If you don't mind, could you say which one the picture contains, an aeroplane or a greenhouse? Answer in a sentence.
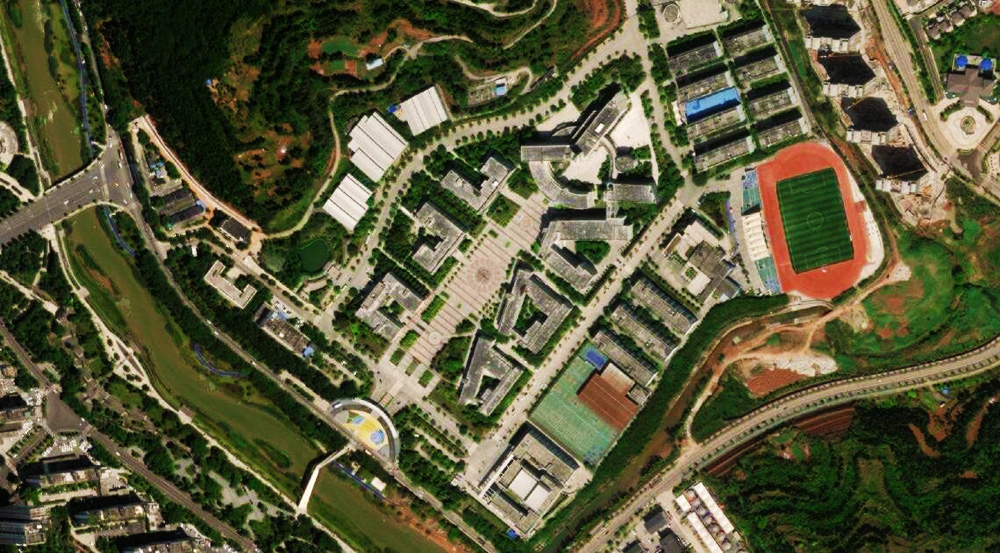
The one in the frame is a greenhouse.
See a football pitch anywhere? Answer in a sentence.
Yes, there's a football pitch down there.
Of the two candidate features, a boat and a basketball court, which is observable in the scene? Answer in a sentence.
It is a basketball court that can be seen here.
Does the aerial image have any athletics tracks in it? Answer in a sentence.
Yes, this view includes an athletics track.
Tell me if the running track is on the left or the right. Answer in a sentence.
The running track is on the right side of the image.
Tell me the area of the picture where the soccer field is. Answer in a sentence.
Look in the right portion of the view to spot the soccer field.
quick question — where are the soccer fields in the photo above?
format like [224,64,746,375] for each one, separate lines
[776,166,854,274]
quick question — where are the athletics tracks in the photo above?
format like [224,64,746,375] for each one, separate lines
[757,142,867,299]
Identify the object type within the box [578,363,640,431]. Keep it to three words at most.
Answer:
basketball court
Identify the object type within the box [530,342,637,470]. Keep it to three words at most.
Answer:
sports court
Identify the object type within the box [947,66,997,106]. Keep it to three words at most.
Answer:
building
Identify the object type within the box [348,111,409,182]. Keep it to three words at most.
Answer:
greenhouse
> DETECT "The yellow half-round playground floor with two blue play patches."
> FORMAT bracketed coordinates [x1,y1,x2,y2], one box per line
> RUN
[345,411,387,450]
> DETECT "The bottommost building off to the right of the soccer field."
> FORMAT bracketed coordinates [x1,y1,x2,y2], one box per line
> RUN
[876,172,927,192]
